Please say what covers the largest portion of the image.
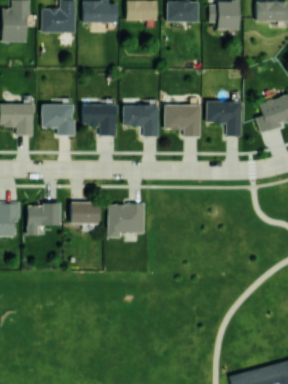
grass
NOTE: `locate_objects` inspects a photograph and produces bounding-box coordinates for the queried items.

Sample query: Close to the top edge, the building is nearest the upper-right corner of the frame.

[256,0,288,22]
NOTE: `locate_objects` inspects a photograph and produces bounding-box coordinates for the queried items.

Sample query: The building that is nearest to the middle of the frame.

[107,204,146,239]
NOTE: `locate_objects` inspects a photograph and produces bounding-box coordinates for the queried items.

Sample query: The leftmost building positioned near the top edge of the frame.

[2,0,30,43]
